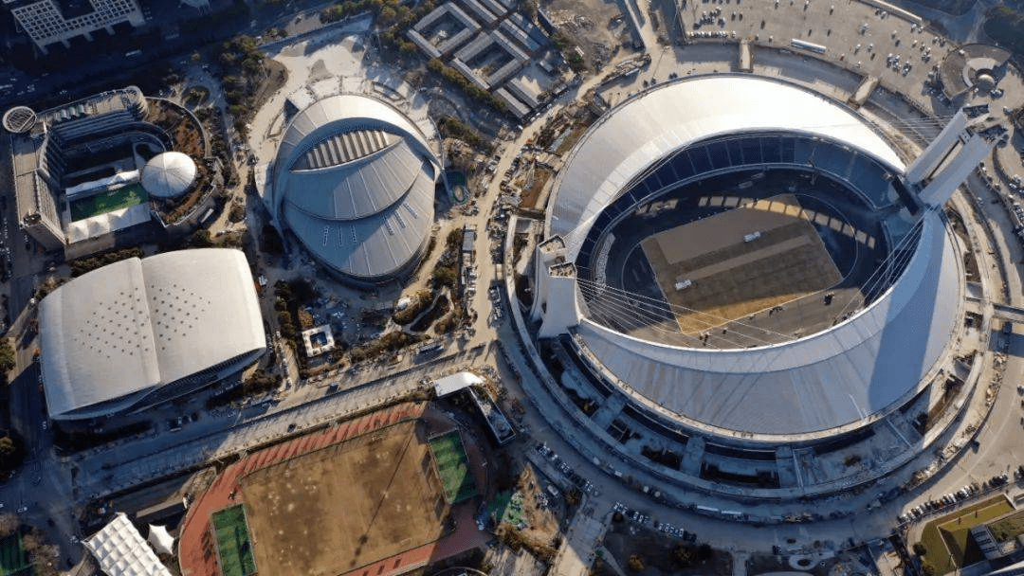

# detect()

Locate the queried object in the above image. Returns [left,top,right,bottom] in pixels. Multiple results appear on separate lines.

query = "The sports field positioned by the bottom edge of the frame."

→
[240,421,447,576]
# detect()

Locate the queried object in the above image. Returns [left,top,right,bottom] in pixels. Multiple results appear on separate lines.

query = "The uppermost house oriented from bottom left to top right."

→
[414,3,453,39]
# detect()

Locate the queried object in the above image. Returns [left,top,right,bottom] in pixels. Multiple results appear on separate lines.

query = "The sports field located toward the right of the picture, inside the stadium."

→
[641,194,842,332]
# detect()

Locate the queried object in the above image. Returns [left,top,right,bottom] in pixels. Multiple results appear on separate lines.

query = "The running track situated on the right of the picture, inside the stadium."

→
[605,182,883,344]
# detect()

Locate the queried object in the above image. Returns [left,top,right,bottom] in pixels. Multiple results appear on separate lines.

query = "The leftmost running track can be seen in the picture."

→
[179,404,500,576]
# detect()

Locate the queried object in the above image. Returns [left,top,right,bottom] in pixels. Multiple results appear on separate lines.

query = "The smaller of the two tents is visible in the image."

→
[149,525,176,554]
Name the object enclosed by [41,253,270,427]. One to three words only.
building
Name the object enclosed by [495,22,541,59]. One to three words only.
house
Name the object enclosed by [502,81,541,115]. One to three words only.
house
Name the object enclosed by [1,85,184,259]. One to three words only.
building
